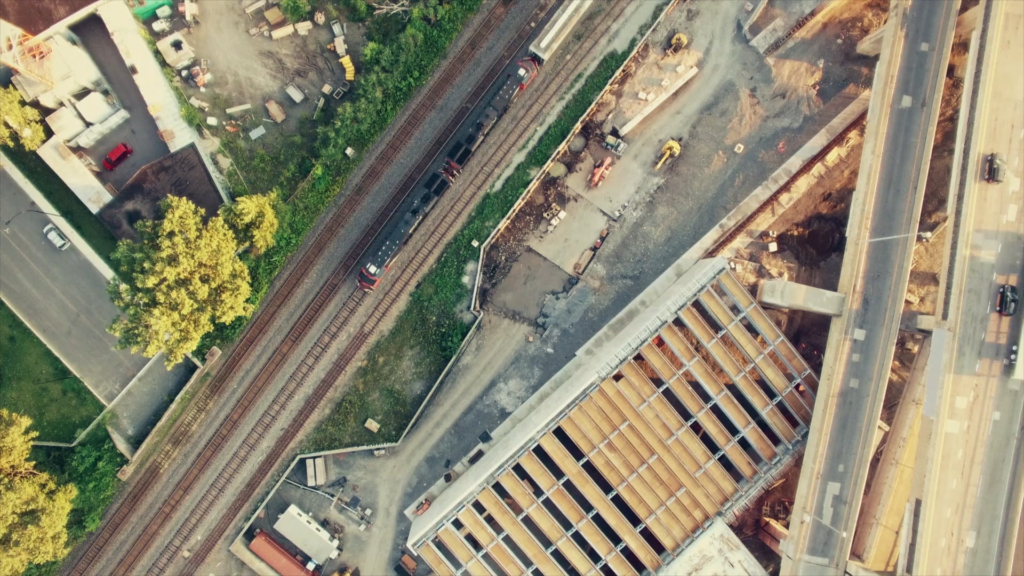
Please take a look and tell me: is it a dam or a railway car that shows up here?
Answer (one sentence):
Visible in the photo is a railway car.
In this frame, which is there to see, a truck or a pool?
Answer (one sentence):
Visible in the photo is a truck.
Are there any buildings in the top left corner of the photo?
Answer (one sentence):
Yes, you'll find a building in the top left corner of the photo.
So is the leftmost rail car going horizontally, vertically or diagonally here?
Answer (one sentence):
Seen from above, the leftmost rail car lies diagonally.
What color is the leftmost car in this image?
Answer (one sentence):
The leftmost car is white.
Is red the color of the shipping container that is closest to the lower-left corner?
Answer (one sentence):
Yes, the shipping container that is closest to the lower-left corner is red.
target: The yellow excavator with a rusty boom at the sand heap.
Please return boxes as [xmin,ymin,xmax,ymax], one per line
[662,27,693,58]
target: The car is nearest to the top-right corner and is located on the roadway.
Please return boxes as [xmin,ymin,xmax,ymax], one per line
[987,149,1011,186]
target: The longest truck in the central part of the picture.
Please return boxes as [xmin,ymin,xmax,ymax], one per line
[575,217,619,276]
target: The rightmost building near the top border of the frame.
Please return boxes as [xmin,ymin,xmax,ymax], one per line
[97,1,233,211]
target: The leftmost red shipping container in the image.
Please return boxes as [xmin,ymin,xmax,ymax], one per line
[240,527,319,576]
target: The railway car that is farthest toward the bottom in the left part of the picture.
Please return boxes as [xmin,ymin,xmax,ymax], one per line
[358,167,459,295]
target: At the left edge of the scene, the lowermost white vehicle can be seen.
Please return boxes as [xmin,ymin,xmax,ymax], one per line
[41,221,68,252]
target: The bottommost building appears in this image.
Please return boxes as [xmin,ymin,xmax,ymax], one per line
[268,501,344,569]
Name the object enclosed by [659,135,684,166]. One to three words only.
work vehicle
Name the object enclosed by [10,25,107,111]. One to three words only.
building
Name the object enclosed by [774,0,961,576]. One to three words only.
overpass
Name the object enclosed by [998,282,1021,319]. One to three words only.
car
